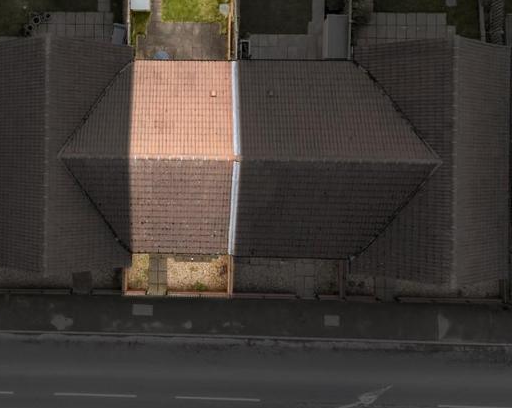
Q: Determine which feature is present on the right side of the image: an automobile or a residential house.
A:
residential house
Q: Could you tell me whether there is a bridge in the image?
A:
No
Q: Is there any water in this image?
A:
No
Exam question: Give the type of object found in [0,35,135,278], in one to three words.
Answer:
house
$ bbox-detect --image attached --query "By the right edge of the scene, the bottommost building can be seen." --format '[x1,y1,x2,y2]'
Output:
[348,36,512,289]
